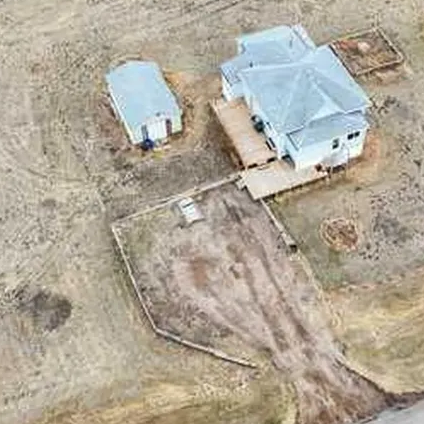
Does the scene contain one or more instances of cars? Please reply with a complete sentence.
No, there's no car here.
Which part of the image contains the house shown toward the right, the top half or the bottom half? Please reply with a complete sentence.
The house shown toward the right is in the top half of the image.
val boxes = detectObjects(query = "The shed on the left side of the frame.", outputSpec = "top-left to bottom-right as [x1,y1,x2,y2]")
[105,60,184,143]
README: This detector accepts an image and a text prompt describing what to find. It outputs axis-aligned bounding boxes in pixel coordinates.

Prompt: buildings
[105,60,184,143]
[218,22,375,168]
